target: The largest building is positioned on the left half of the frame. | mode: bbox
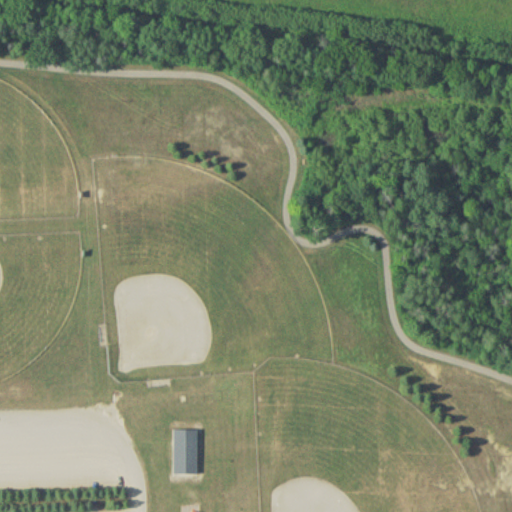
[173,430,198,474]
